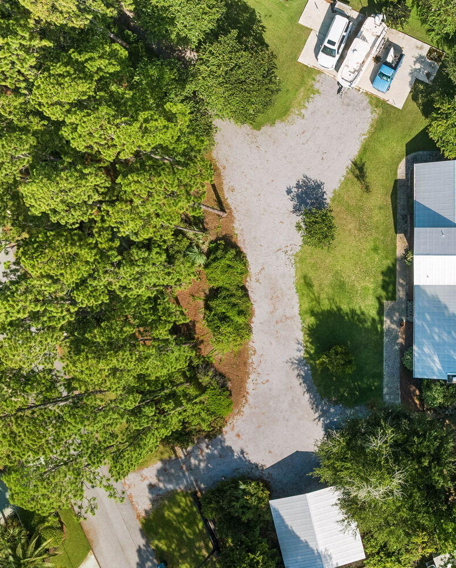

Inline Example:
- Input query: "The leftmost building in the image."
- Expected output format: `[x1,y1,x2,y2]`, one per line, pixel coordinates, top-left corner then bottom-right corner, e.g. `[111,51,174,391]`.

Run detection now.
[270,483,365,568]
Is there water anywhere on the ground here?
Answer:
No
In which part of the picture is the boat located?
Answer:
top right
